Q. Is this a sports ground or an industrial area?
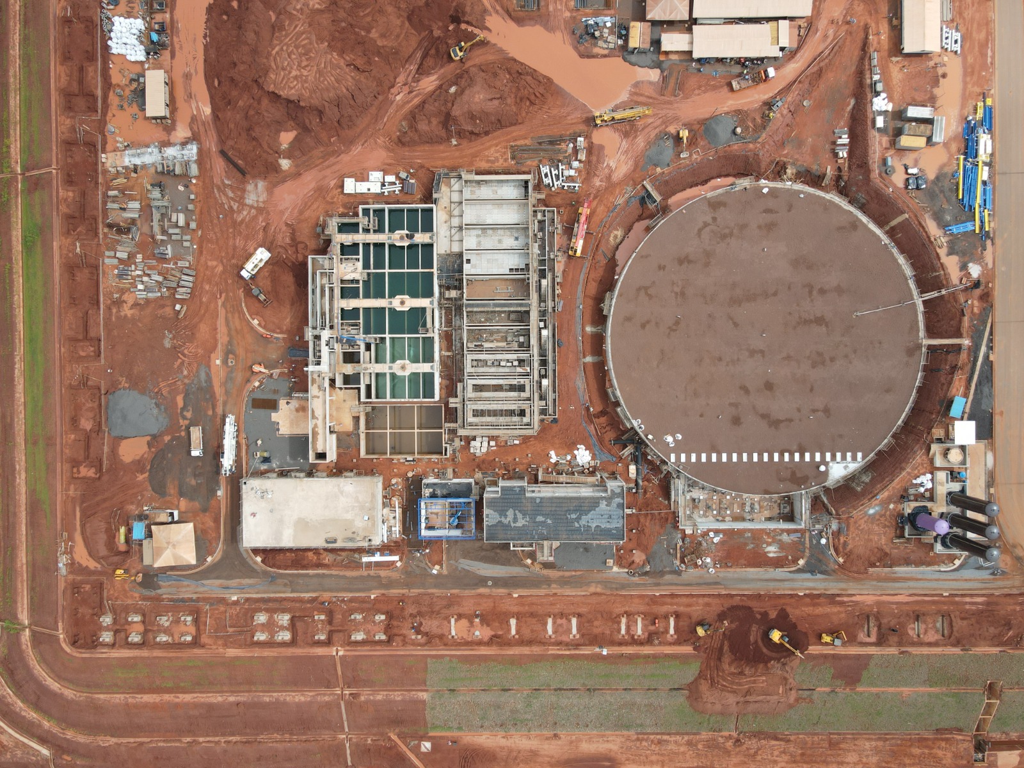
industrial area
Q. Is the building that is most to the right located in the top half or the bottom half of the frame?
top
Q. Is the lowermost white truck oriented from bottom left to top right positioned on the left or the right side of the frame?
left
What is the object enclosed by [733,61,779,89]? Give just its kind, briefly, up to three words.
truck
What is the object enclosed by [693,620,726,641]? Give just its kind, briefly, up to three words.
work vehicle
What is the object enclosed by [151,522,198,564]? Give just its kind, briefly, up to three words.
building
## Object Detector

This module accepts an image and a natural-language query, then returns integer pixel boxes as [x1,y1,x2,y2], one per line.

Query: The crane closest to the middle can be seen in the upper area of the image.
[563,196,598,256]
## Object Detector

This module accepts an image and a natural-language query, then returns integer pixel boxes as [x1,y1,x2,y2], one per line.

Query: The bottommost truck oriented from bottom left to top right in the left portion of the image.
[235,244,271,280]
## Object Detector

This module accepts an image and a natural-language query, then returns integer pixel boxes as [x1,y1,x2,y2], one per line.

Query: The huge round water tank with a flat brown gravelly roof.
[603,178,928,497]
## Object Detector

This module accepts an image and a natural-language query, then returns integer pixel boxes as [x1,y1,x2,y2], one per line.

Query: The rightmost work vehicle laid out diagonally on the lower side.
[771,630,810,664]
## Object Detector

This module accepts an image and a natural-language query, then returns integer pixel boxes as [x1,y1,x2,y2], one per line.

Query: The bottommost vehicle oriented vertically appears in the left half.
[186,426,202,458]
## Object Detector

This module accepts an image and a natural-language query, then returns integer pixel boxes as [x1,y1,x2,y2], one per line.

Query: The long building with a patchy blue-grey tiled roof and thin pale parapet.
[484,473,629,562]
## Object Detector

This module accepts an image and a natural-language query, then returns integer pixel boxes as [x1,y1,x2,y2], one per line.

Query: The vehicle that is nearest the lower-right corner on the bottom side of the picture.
[821,634,843,646]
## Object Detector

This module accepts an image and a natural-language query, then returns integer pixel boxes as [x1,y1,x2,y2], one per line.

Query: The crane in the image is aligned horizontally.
[594,104,656,125]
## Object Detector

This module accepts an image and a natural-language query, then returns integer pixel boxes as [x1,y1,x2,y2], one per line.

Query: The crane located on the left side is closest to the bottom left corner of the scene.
[216,414,237,475]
